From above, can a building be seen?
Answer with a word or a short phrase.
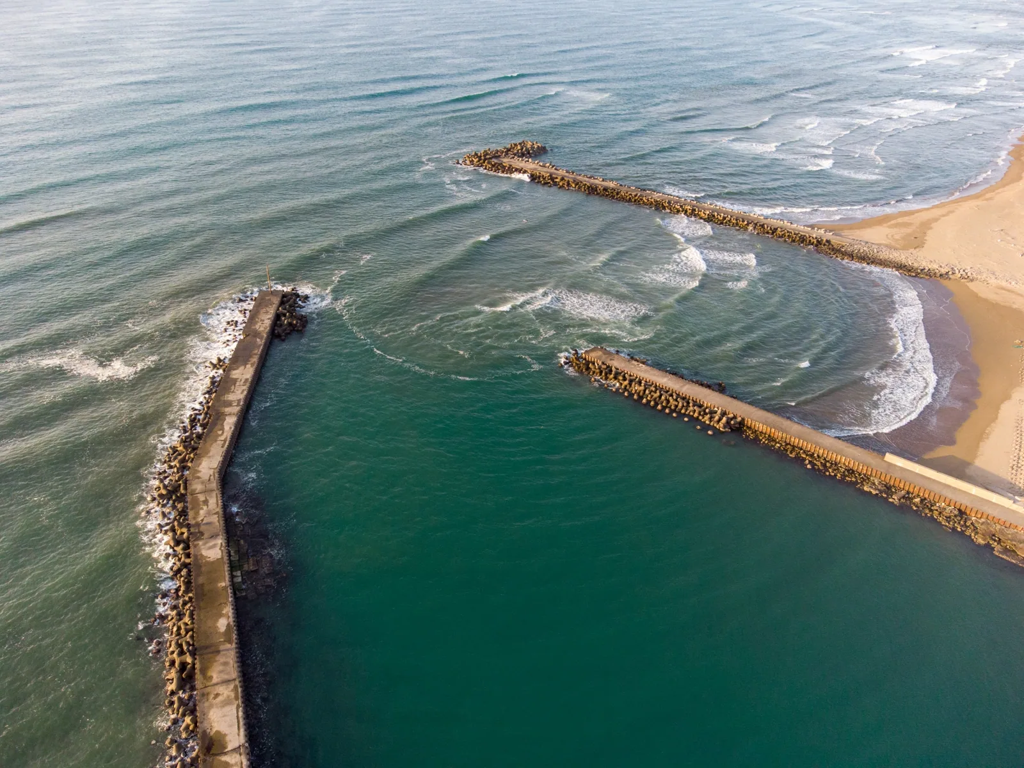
No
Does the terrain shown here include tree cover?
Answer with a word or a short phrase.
No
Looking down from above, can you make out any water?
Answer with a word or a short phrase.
Yes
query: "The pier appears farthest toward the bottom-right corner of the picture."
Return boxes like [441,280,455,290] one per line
[582,348,1024,532]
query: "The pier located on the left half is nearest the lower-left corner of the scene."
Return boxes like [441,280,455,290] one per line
[187,290,283,768]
